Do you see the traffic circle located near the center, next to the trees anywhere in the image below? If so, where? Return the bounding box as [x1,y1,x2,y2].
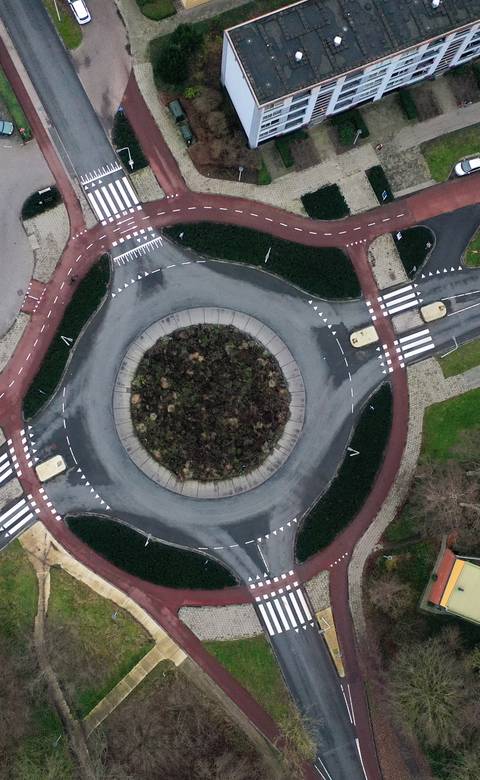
[22,229,392,584]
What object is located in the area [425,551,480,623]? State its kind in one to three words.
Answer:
house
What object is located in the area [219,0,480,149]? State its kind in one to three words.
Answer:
building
